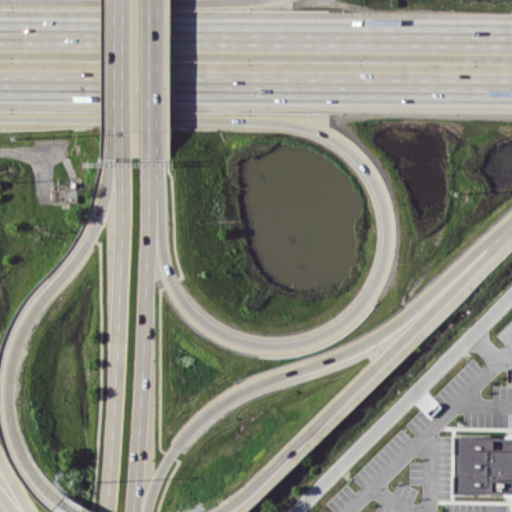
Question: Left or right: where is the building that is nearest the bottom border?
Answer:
right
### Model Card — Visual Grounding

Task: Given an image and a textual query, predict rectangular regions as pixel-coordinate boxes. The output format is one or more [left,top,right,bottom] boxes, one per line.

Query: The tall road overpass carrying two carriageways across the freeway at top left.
[101,0,170,159]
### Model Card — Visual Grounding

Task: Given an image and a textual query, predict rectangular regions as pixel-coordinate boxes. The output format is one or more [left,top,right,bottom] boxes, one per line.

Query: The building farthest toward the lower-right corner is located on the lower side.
[455,434,512,500]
